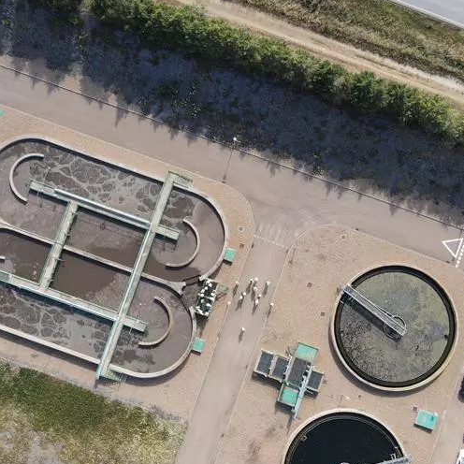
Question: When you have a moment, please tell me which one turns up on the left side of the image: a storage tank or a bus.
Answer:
storage tank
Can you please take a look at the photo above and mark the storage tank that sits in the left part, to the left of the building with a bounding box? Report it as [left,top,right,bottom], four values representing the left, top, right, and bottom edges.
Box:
[0,136,226,384]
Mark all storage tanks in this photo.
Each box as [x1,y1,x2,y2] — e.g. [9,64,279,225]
[330,264,457,389]
[0,136,226,384]
[280,408,414,464]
